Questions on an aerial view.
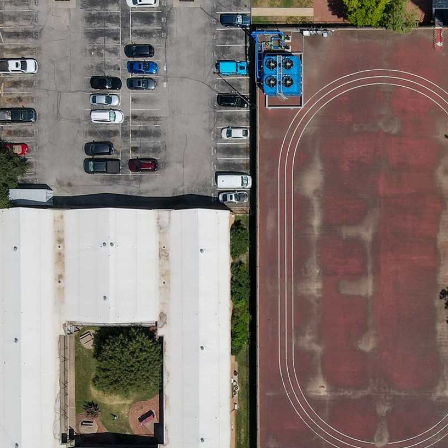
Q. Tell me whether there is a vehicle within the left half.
Yes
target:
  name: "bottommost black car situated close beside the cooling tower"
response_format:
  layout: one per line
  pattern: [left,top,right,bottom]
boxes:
[217,92,249,108]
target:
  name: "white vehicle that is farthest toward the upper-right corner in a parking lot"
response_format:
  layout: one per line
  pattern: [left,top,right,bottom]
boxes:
[222,125,250,139]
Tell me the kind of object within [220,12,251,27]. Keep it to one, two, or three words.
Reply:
car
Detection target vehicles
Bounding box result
[91,108,125,124]
[91,76,123,90]
[215,172,253,188]
[127,0,160,9]
[91,92,122,107]
[220,12,251,27]
[217,92,249,108]
[220,191,249,204]
[130,159,159,172]
[0,56,40,74]
[0,107,37,123]
[125,43,155,58]
[85,158,123,173]
[4,142,30,155]
[216,60,249,75]
[222,125,250,139]
[85,141,114,156]
[126,77,157,91]
[127,59,158,75]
